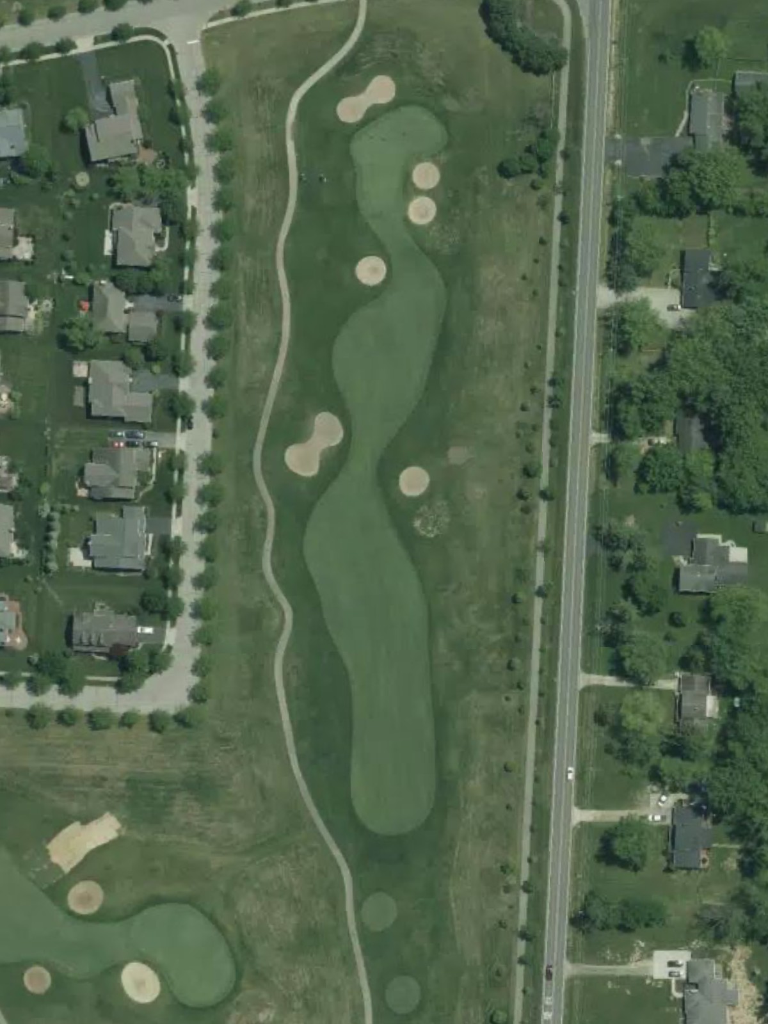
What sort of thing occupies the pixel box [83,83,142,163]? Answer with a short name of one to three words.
house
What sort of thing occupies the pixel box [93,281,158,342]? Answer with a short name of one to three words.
house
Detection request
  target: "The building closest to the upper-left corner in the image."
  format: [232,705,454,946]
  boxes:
[0,109,28,158]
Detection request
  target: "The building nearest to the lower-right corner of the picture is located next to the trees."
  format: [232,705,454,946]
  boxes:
[684,959,739,1024]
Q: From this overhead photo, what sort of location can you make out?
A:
golf course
